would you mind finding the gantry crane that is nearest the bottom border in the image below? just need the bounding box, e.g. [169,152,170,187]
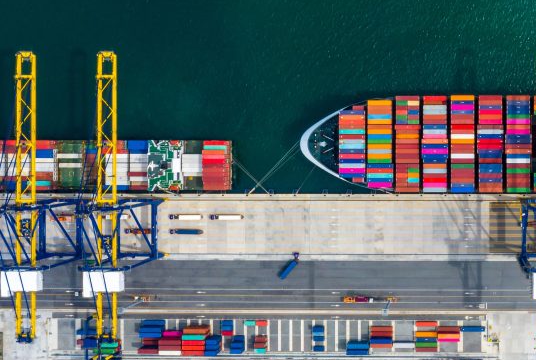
[84,313,128,360]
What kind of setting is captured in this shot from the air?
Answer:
port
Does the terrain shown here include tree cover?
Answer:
No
